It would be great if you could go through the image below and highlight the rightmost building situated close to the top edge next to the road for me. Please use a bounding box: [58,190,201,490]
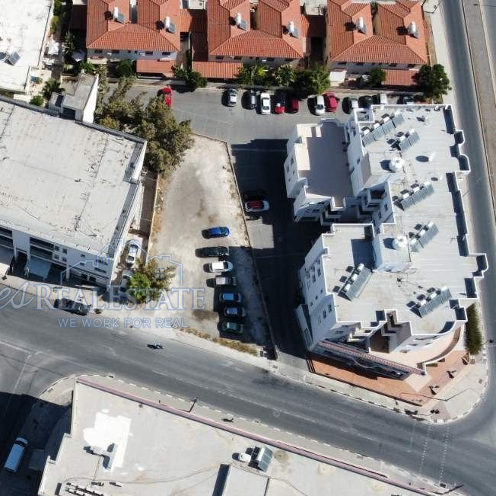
[318,0,427,81]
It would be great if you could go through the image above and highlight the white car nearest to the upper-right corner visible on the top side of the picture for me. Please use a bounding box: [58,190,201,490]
[376,88,390,106]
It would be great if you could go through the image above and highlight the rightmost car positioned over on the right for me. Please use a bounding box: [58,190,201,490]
[400,88,414,106]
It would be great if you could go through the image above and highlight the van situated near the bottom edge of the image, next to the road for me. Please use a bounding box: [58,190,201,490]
[0,435,30,476]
